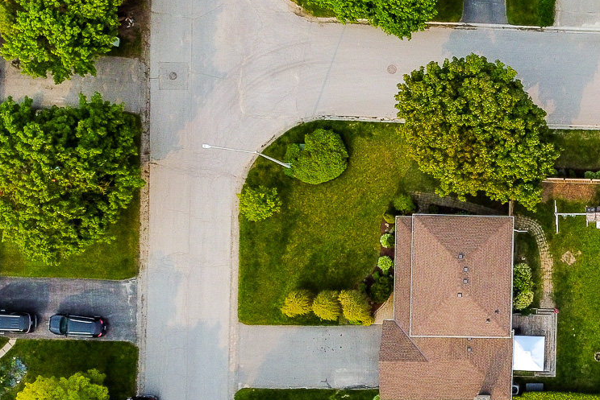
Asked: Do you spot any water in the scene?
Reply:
No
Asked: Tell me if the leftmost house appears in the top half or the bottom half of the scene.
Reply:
bottom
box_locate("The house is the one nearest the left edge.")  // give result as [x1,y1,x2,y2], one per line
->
[379,214,530,400]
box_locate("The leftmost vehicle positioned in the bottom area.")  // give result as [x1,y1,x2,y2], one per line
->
[0,312,38,335]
